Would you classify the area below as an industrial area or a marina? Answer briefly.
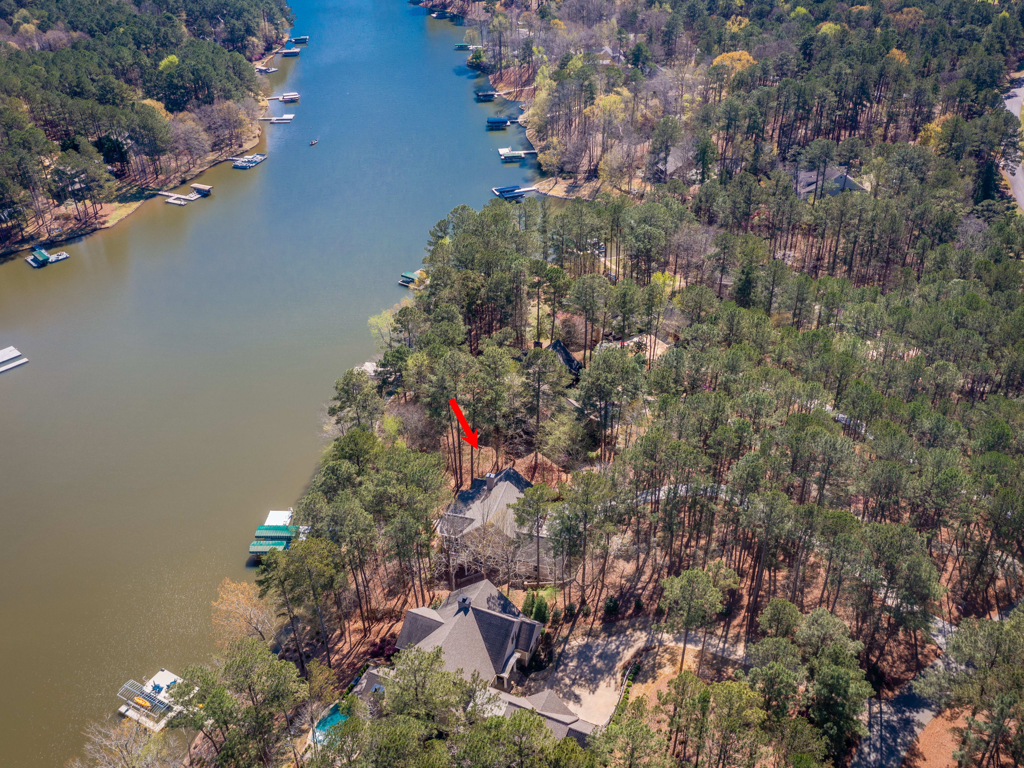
marina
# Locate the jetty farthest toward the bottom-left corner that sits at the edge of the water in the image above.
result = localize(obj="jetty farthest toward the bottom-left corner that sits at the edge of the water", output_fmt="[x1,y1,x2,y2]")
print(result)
[117,670,210,731]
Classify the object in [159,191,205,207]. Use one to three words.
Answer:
pier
